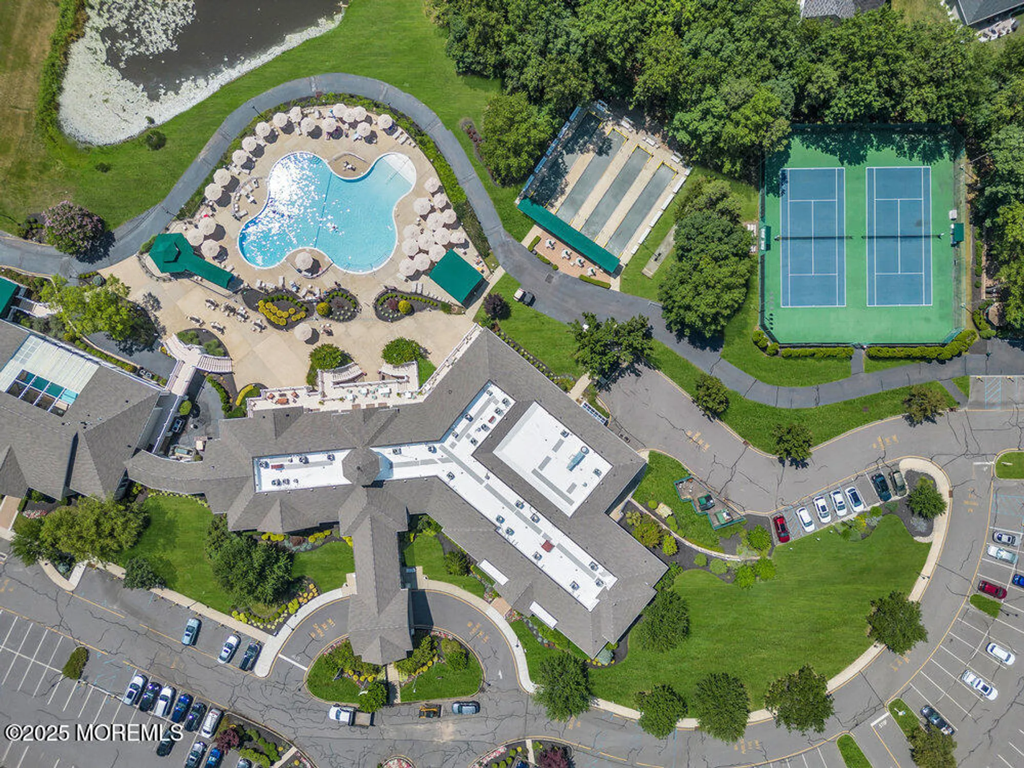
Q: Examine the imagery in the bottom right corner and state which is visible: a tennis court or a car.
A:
car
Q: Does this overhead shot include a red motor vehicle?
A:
Yes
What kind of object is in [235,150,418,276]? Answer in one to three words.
swimming pool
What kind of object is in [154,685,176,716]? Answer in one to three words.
car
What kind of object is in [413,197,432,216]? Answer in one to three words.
umbrella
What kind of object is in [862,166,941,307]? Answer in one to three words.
tennis court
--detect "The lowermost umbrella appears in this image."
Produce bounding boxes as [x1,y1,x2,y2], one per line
[294,323,313,341]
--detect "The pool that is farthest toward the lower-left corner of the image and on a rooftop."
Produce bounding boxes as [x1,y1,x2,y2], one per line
[25,374,76,404]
